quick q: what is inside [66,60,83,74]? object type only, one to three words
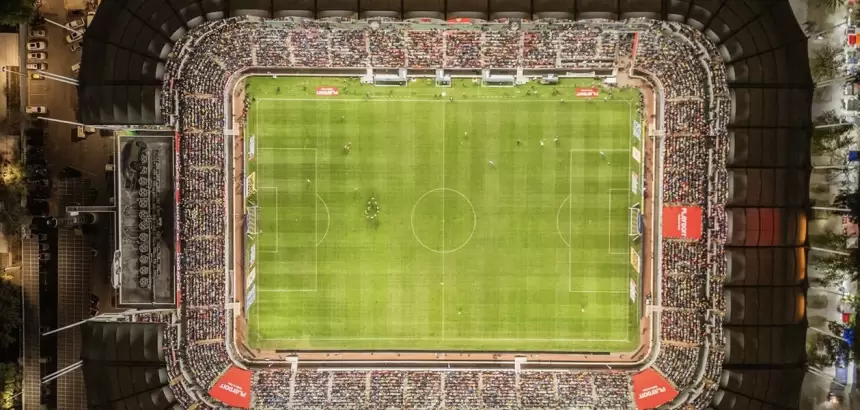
vehicle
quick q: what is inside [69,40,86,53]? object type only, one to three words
vehicle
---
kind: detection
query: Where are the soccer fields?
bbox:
[245,76,643,351]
